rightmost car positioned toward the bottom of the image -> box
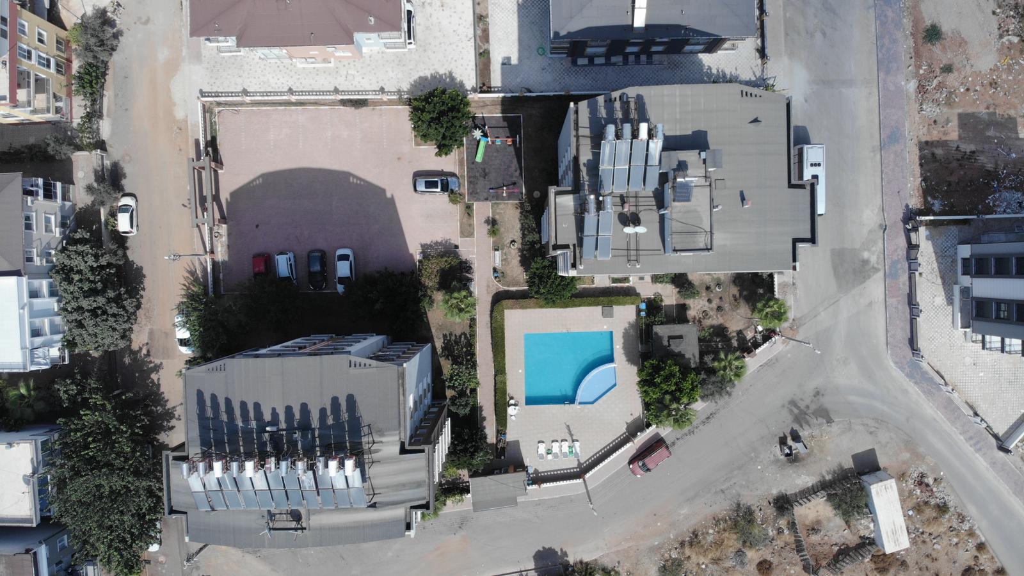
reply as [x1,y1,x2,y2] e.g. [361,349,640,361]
[626,440,673,478]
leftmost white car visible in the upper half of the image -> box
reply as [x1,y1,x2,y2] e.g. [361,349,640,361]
[114,193,140,234]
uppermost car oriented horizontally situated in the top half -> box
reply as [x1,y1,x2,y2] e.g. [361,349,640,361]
[412,173,458,196]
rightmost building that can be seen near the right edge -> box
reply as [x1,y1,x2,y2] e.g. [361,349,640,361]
[953,241,1024,356]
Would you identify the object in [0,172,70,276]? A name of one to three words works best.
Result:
house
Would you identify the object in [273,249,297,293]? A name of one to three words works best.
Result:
car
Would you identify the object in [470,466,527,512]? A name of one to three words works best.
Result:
building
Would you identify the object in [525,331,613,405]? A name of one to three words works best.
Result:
swimming pool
